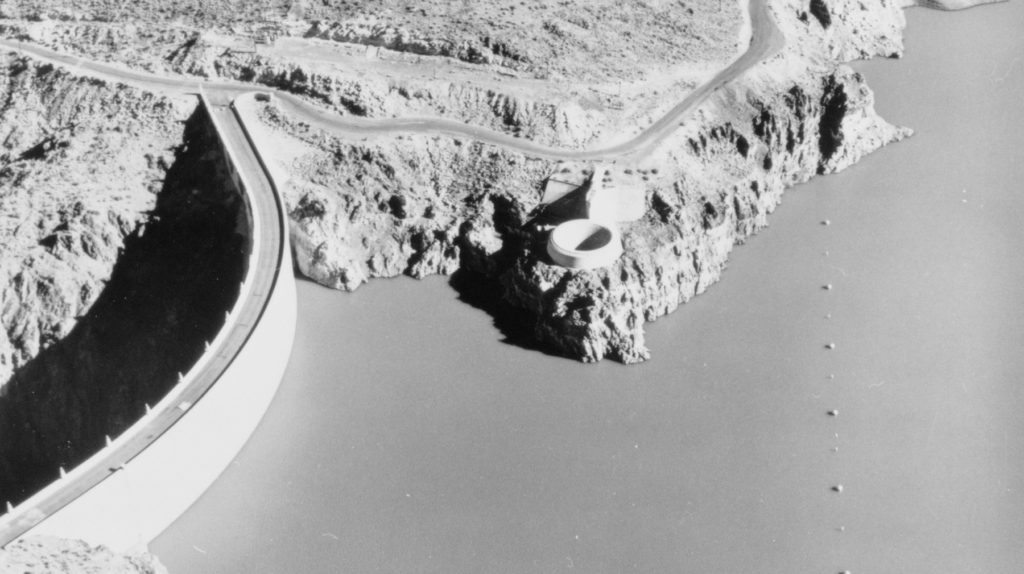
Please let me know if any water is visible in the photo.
Yes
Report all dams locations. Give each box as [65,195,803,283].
[0,95,298,566]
